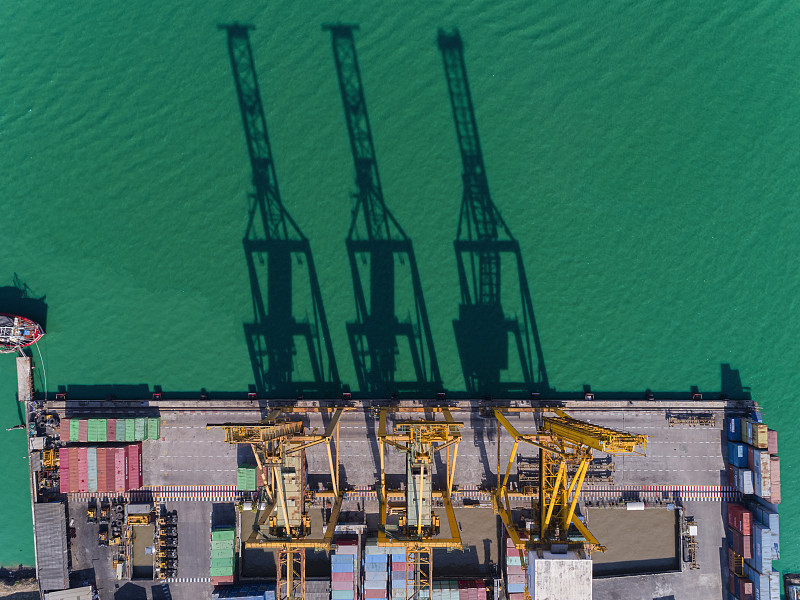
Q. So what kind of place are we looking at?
port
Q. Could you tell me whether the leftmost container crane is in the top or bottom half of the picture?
bottom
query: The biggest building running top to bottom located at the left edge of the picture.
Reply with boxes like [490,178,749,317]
[34,498,72,591]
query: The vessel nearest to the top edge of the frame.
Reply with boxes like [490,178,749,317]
[0,312,45,352]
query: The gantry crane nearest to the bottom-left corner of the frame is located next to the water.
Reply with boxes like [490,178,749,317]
[205,408,363,600]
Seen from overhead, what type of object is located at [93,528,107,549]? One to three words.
work vehicle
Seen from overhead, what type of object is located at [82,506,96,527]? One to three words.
work vehicle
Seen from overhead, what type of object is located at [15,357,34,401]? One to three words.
pier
